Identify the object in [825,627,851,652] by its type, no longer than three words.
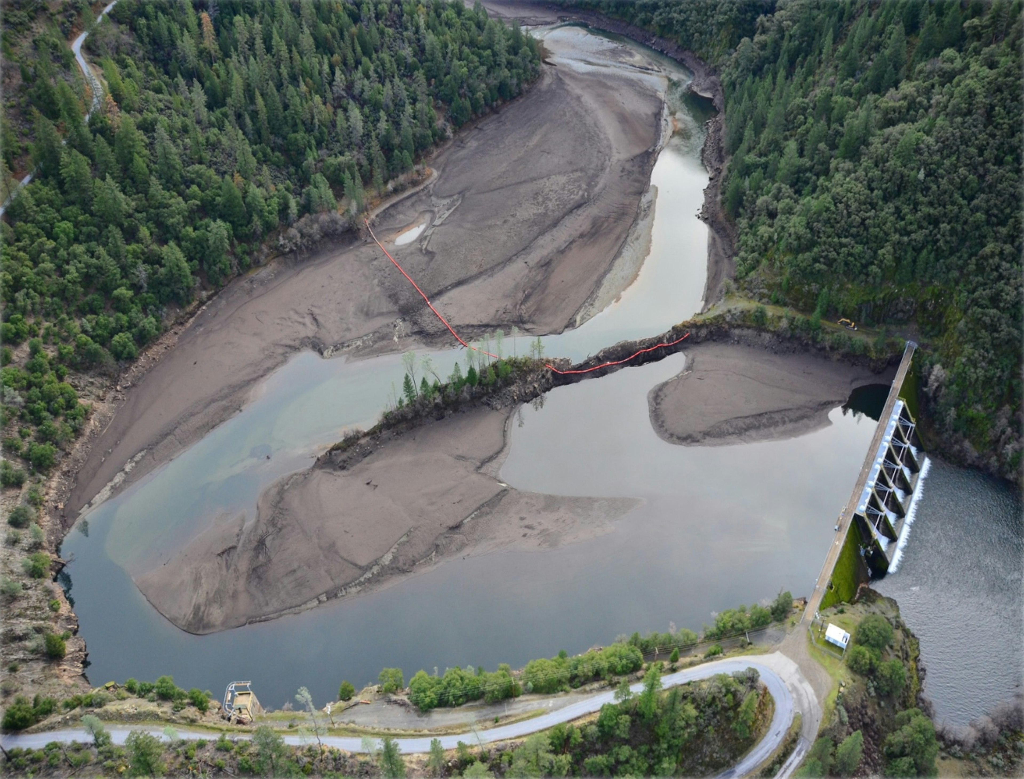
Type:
shed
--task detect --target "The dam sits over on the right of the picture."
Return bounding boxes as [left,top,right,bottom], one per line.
[799,337,928,633]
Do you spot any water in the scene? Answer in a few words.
Yes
